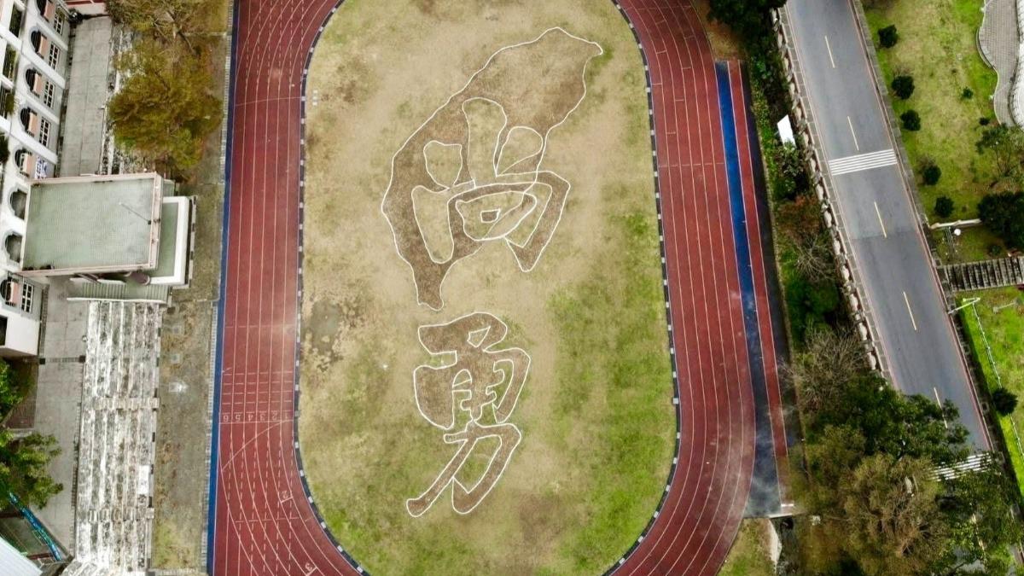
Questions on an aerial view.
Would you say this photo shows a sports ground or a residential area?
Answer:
sports ground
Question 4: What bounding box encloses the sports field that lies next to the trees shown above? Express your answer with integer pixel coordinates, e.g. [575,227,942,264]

[299,0,675,576]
